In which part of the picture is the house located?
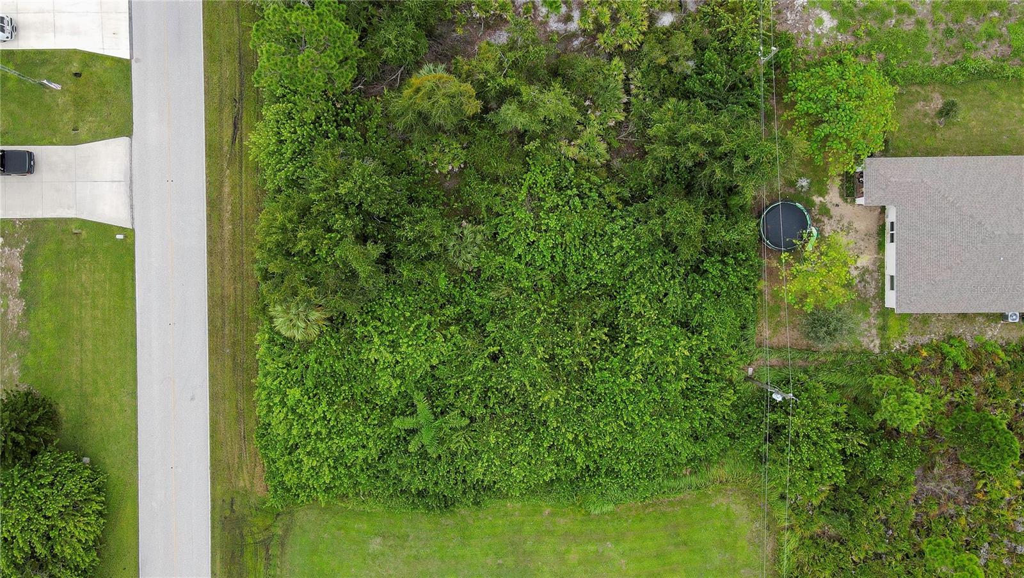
right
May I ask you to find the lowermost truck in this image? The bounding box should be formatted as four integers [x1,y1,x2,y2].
[0,149,39,175]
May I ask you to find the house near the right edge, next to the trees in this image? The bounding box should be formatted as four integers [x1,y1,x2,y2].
[854,157,1024,314]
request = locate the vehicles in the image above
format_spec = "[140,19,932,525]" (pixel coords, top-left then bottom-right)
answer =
[0,149,39,175]
[0,15,19,42]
